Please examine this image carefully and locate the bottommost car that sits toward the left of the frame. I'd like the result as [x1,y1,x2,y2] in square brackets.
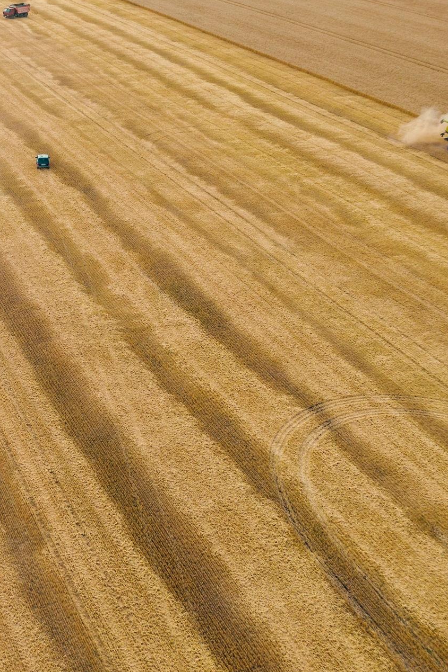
[36,152,52,166]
